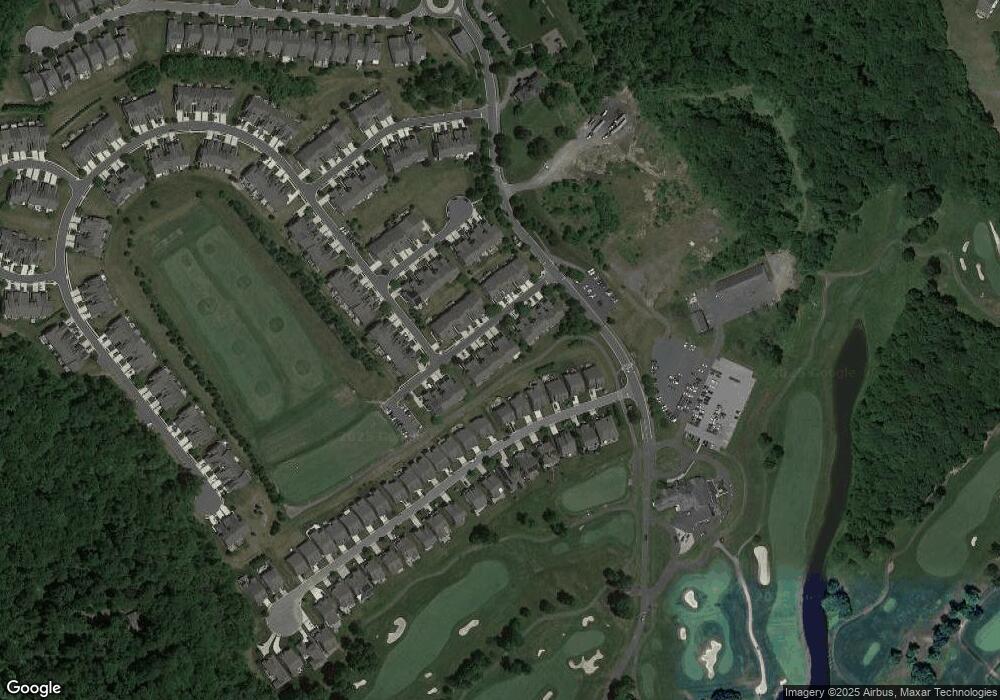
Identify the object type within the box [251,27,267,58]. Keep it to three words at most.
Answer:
house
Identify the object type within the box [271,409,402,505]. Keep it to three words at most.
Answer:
sports field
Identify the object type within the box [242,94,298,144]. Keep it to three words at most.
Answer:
house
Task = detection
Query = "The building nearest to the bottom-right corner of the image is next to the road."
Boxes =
[653,476,713,527]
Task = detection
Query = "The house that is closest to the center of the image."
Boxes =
[462,332,520,386]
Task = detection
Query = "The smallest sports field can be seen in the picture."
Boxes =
[258,397,376,465]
